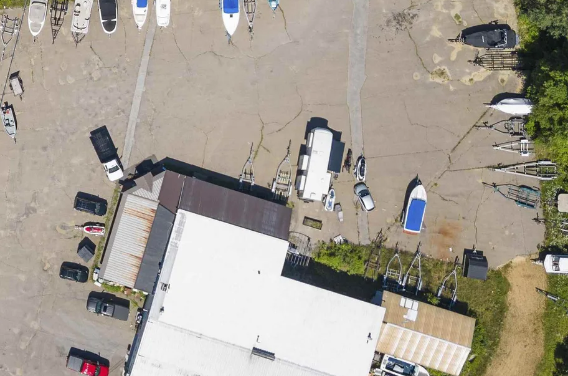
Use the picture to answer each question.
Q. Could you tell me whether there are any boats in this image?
Yes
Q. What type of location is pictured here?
parking lot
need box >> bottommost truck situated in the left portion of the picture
[65,355,110,376]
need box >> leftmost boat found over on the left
[0,106,14,139]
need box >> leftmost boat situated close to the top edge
[28,0,48,35]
